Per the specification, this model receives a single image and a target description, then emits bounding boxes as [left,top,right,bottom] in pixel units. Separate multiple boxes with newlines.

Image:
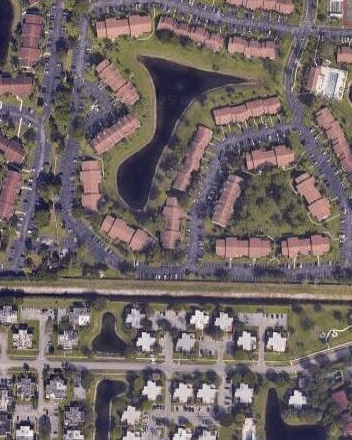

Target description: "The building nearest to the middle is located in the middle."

[164,196,183,250]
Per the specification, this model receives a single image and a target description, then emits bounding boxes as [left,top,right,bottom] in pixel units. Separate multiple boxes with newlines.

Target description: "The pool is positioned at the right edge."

[317,66,349,102]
